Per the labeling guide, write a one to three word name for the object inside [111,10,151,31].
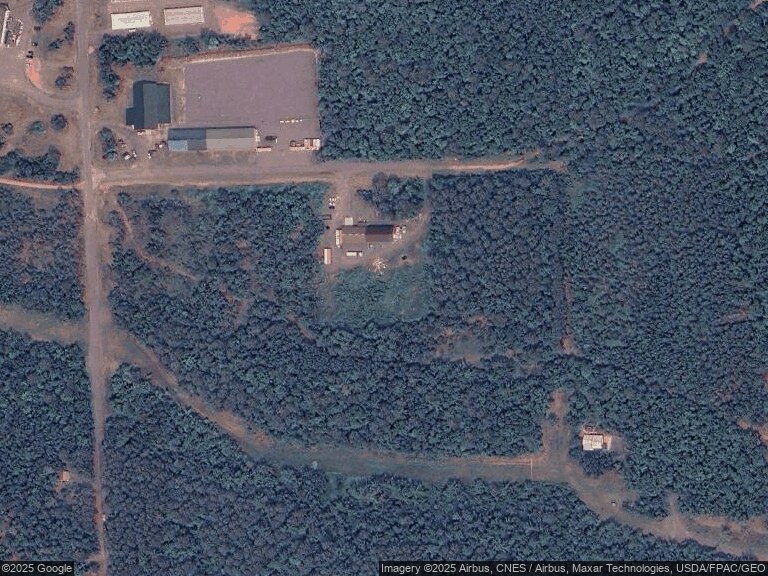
barn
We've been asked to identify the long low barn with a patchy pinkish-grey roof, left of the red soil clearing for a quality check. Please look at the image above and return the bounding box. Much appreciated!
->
[164,7,202,24]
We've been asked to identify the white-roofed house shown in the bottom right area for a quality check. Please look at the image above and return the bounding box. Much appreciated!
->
[584,427,611,451]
